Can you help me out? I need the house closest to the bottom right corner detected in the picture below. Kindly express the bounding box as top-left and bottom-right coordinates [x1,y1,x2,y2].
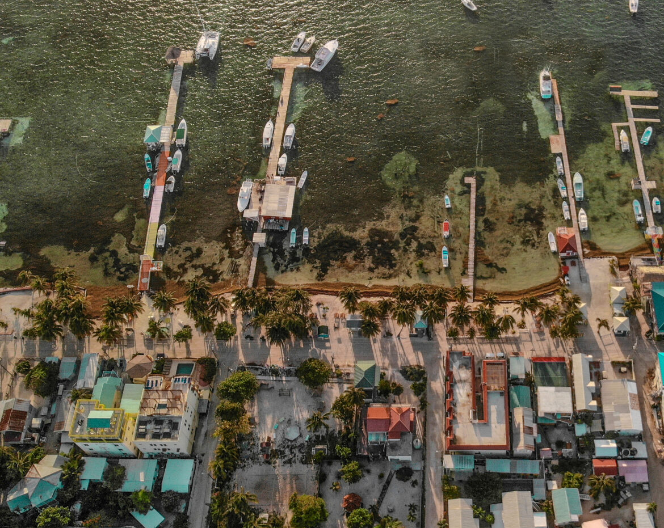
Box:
[632,504,653,528]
